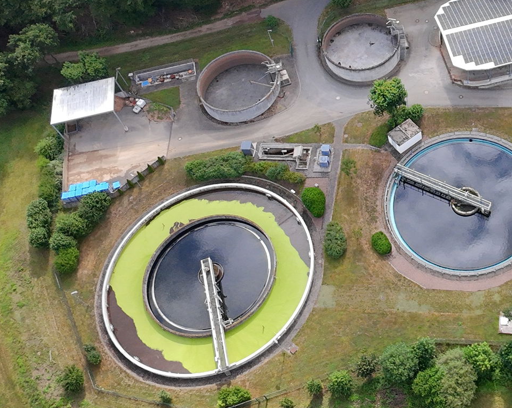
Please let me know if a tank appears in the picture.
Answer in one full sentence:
Yes, the picture does show a tank.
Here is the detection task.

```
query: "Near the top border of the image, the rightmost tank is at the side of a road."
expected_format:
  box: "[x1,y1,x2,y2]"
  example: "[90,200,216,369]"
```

[323,10,409,81]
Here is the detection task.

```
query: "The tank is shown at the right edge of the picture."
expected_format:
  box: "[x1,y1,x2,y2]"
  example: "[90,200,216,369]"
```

[386,132,512,277]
